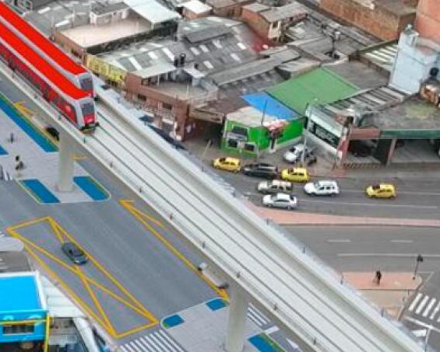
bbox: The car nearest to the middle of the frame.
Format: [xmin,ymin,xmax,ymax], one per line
[212,155,242,172]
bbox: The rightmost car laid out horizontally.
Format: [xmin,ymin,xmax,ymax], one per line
[363,183,396,199]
